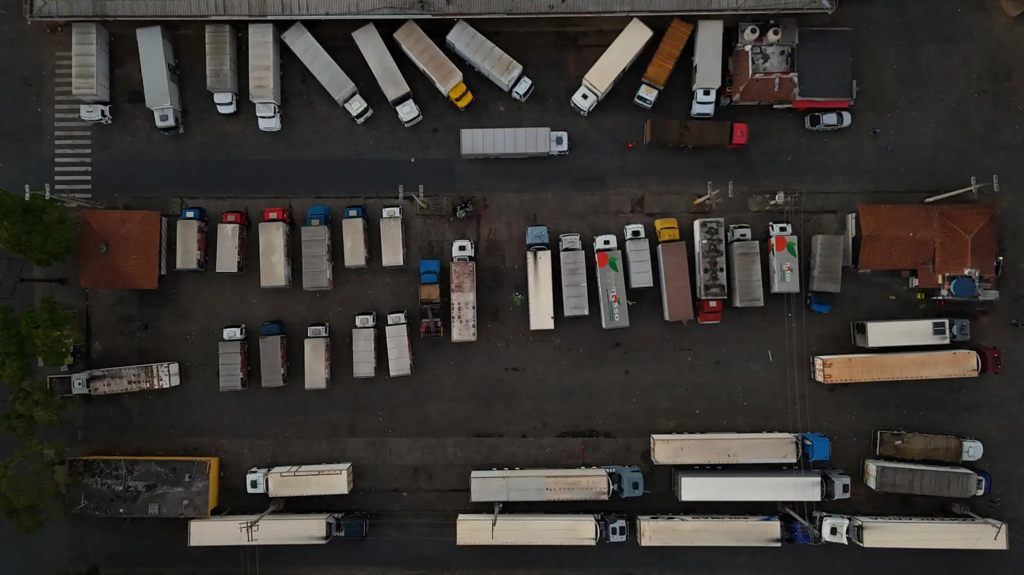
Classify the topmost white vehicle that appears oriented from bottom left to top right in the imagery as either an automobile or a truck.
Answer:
truck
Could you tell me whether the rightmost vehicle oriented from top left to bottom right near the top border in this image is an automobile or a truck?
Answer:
truck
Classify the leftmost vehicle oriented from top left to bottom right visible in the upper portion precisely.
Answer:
truck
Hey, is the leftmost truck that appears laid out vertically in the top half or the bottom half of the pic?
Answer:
top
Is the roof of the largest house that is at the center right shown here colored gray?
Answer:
No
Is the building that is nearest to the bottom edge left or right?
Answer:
left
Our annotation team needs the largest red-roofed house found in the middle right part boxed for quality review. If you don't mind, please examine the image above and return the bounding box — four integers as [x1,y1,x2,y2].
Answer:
[850,205,997,287]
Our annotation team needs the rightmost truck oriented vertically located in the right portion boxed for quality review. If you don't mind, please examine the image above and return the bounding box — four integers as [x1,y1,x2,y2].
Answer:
[804,235,841,314]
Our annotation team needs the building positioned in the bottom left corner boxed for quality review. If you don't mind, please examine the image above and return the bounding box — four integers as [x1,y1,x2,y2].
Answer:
[64,454,220,518]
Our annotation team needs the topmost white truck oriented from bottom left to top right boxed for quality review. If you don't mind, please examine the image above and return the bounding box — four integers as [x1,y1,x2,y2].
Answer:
[567,20,653,120]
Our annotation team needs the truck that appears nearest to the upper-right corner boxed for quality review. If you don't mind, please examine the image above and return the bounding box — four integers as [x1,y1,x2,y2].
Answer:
[803,109,851,132]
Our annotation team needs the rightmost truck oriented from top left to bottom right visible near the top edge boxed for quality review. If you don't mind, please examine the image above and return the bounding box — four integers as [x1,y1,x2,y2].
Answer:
[447,20,535,103]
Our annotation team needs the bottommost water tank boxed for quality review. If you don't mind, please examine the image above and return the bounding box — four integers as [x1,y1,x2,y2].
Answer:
[935,276,974,299]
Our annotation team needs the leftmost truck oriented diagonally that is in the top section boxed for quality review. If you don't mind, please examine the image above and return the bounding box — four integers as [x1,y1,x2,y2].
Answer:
[282,21,375,125]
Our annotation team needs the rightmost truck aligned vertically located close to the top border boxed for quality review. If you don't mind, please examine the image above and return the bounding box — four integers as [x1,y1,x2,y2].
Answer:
[689,20,723,121]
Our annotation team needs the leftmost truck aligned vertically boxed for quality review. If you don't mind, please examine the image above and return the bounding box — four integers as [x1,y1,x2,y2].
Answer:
[72,22,114,127]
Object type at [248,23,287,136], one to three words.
truck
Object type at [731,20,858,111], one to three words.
building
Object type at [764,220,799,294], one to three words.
truck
